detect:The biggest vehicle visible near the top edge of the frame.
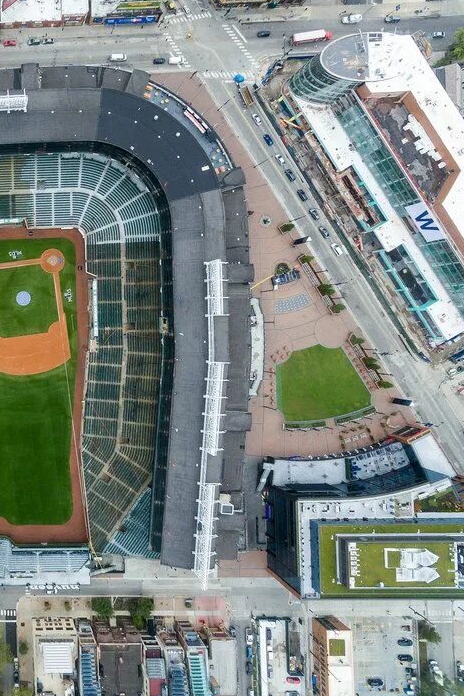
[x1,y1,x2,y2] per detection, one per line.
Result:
[289,29,333,45]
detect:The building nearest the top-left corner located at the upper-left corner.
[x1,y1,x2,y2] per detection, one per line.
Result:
[0,0,61,31]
